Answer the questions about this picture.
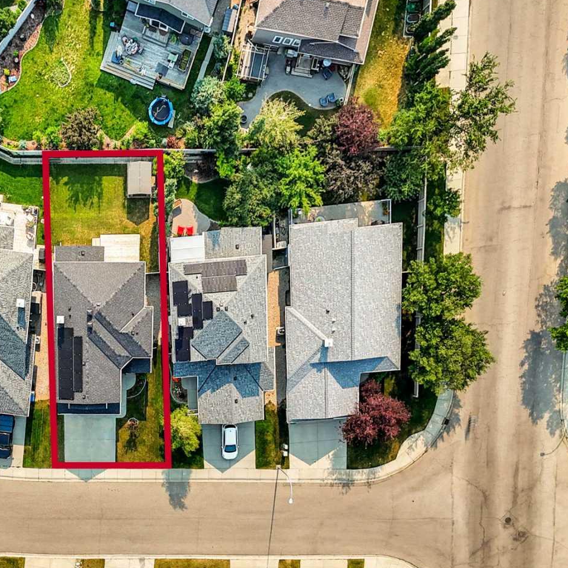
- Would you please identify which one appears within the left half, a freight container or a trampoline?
trampoline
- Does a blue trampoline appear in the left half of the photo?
Yes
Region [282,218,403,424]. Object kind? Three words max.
house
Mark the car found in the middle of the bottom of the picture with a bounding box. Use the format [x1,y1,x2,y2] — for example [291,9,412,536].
[220,422,240,461]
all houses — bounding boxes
[0,223,36,417]
[251,0,378,66]
[167,226,276,424]
[282,218,403,424]
[122,0,218,36]
[53,245,154,416]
